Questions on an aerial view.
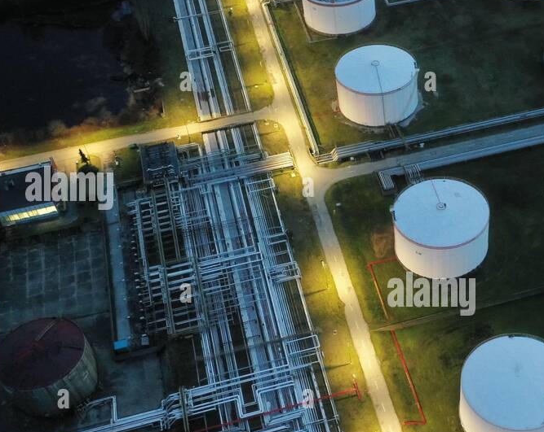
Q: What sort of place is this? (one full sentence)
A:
This looks like an industrial area.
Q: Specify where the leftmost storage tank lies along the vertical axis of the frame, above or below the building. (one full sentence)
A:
Looking at the photo, you'll find the leftmost storage tank below the building.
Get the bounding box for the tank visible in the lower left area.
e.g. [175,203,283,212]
[0,318,101,420]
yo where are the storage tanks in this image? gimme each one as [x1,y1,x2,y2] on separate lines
[386,176,491,281]
[0,318,101,420]
[456,331,544,432]
[300,0,379,35]
[334,41,423,129]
